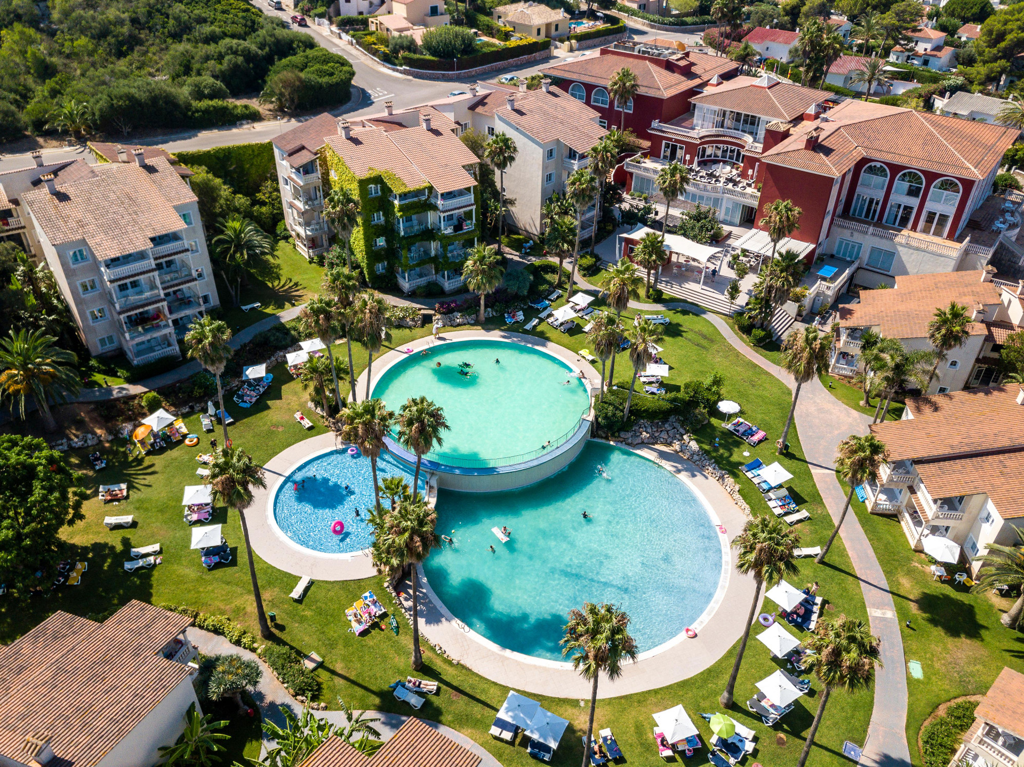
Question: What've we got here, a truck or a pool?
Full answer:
I can see a pool in this picture.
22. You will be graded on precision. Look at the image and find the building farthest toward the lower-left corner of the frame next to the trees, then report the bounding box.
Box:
[0,587,204,767]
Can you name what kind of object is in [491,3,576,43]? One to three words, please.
house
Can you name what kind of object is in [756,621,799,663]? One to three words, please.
umbrella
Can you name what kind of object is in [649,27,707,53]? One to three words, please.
house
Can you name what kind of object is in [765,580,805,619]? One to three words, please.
umbrella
